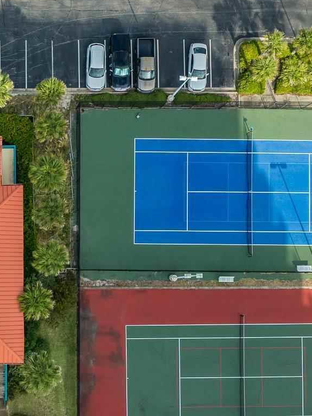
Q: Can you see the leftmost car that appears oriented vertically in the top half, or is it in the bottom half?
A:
top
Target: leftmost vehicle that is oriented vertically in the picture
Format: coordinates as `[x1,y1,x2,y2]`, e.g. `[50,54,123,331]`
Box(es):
[85,43,108,91]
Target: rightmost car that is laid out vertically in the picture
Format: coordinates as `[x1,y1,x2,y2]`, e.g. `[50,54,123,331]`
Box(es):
[187,43,209,92]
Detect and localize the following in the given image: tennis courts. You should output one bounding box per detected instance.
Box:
[82,288,312,416]
[82,107,312,281]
